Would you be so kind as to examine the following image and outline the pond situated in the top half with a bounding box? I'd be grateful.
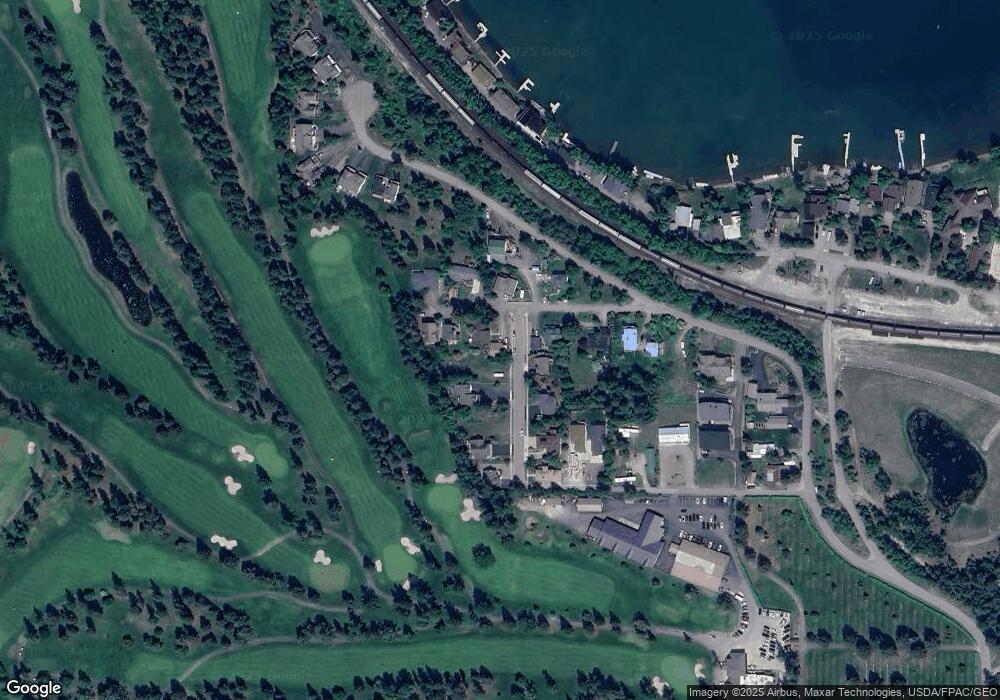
[66,171,152,325]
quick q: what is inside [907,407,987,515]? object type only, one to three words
pond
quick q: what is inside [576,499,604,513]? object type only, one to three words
building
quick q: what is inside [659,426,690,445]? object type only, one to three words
barn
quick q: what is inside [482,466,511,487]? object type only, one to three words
house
